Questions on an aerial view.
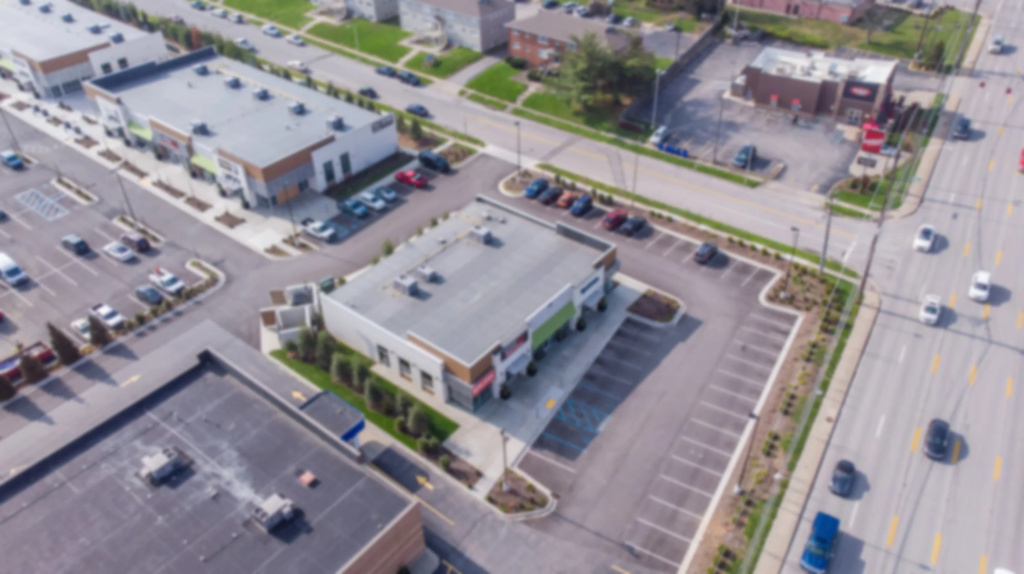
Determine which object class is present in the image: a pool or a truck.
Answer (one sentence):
This aerial view contains a truck.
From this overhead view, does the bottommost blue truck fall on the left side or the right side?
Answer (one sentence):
The bottommost blue truck sits on the right side.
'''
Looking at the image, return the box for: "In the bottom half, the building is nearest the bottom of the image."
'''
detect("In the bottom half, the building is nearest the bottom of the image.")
[0,345,427,574]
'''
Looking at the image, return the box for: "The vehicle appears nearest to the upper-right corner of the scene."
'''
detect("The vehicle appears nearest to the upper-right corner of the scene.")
[989,36,1004,53]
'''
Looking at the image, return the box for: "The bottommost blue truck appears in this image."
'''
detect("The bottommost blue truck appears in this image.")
[799,515,839,574]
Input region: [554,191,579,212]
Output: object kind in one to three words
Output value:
car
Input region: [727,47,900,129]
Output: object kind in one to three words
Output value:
building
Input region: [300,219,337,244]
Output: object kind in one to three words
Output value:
truck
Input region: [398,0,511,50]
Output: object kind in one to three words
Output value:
building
